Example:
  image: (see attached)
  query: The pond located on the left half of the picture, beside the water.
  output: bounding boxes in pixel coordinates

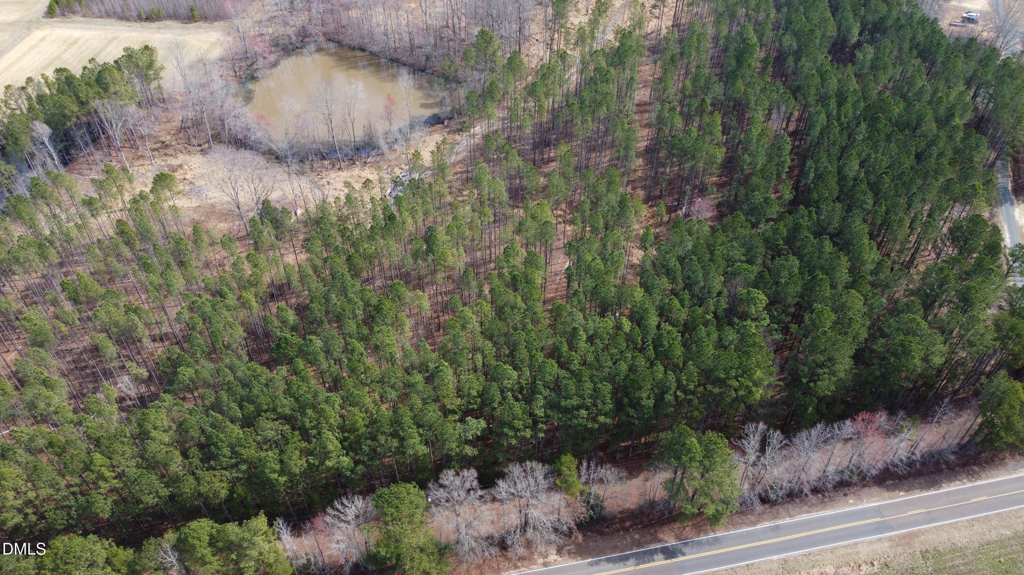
[243,44,454,165]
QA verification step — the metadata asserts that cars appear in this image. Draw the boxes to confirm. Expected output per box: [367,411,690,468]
[963,8,977,15]
[963,13,982,21]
